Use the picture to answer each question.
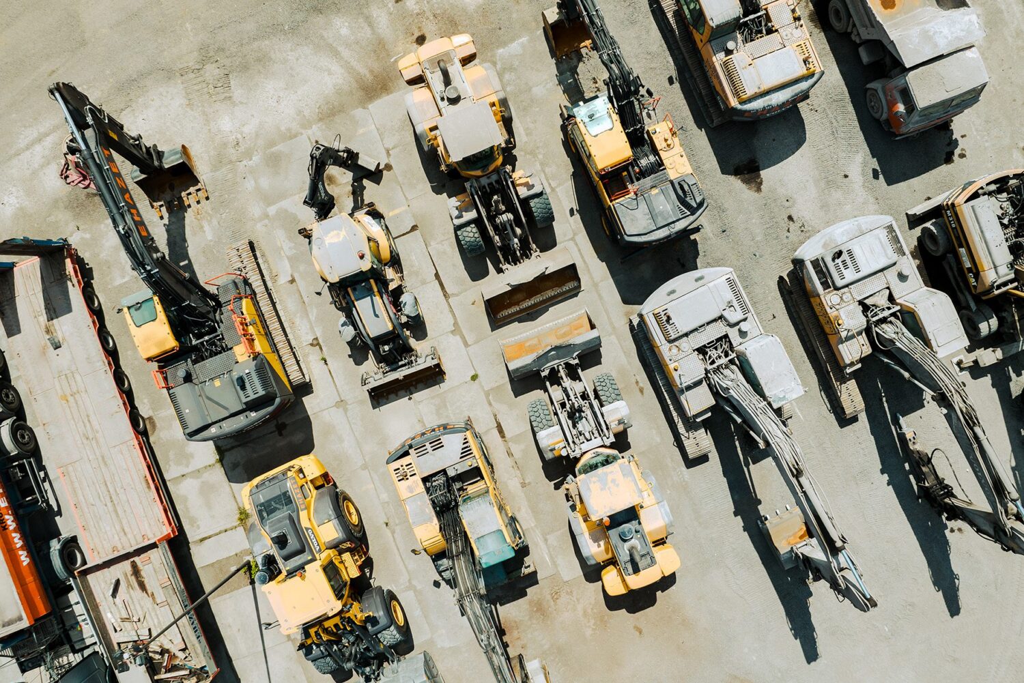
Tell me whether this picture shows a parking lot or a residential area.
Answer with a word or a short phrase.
parking lot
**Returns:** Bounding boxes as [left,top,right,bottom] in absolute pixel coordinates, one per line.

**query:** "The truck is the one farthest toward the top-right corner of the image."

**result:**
[827,0,987,149]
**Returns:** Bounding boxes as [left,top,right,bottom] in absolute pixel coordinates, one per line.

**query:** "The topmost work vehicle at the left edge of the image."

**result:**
[44,78,315,440]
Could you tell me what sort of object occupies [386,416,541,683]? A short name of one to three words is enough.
work vehicle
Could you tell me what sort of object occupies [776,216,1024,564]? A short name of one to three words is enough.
work vehicle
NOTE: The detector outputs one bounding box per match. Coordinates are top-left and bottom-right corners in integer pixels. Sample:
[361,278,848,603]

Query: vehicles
[827,0,987,149]
[399,34,586,322]
[902,168,1024,374]
[651,0,824,126]
[44,78,315,440]
[293,134,446,406]
[493,299,680,595]
[242,450,442,683]
[627,267,883,613]
[540,0,707,249]
[776,216,1024,564]
[0,352,116,683]
[386,416,541,683]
